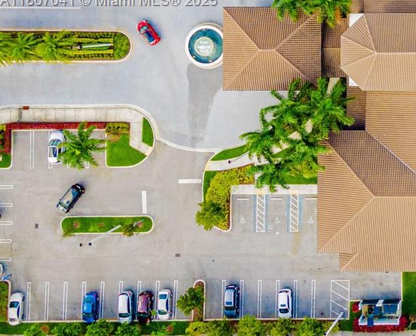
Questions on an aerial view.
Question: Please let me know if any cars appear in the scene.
Yes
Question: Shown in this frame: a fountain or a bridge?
fountain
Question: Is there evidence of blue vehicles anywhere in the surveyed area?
Yes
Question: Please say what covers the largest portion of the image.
paved ground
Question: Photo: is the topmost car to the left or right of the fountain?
to its left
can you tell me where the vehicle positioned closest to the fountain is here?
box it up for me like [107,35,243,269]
[135,19,159,47]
